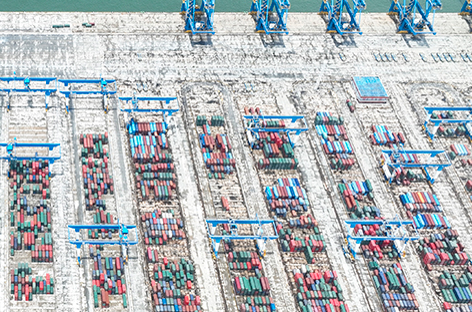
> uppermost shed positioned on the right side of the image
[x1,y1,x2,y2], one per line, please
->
[352,76,389,102]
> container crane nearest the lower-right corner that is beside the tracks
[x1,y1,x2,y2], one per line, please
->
[343,214,417,259]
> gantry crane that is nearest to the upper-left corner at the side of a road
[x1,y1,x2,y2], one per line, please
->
[0,71,56,110]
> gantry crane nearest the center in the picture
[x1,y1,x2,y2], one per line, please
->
[244,111,307,150]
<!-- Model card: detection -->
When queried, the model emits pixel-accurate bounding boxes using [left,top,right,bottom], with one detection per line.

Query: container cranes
[244,111,307,150]
[0,137,60,179]
[118,92,178,130]
[379,144,450,185]
[0,71,56,110]
[343,214,417,259]
[317,0,368,33]
[418,102,472,140]
[68,218,137,264]
[387,0,445,33]
[247,0,292,33]
[58,74,115,112]
[207,214,278,259]
[177,0,216,33]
